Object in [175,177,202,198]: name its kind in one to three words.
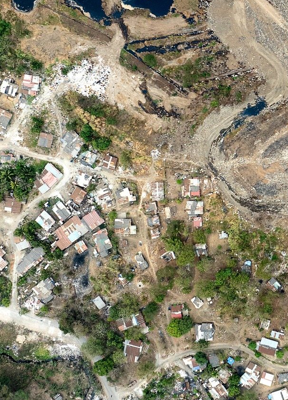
house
